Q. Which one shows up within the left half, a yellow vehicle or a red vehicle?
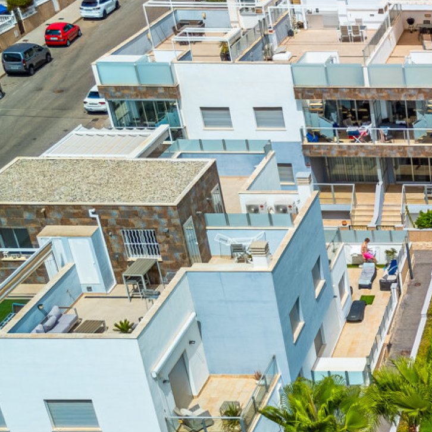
red vehicle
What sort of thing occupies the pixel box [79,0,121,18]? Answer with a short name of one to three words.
car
